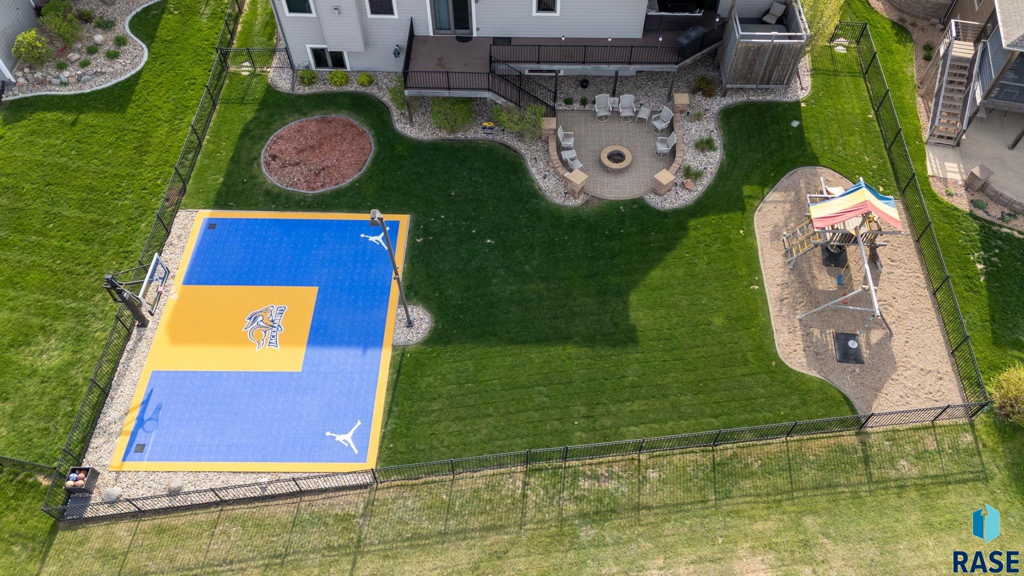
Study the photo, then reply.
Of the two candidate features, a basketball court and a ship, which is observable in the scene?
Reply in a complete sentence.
Of the two, only a basketball court appears.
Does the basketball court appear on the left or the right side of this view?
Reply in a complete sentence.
You can find the basketball court on the left side of the picture.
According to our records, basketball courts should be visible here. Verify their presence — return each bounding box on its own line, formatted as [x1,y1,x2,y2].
[107,211,410,473]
